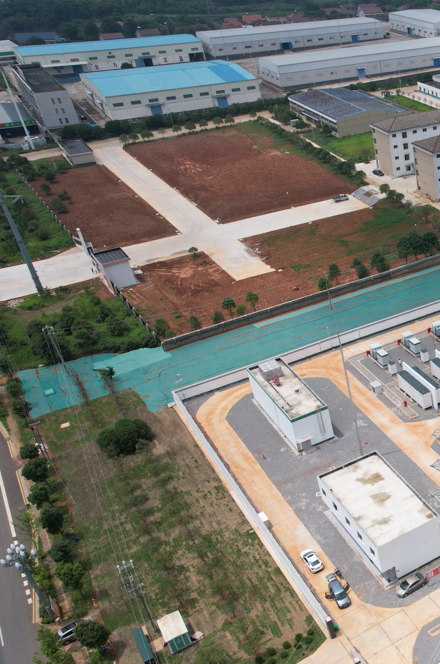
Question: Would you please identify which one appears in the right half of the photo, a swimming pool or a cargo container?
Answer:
cargo container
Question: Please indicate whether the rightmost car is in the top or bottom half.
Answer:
bottom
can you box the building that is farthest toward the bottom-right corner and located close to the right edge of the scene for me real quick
[316,449,440,596]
